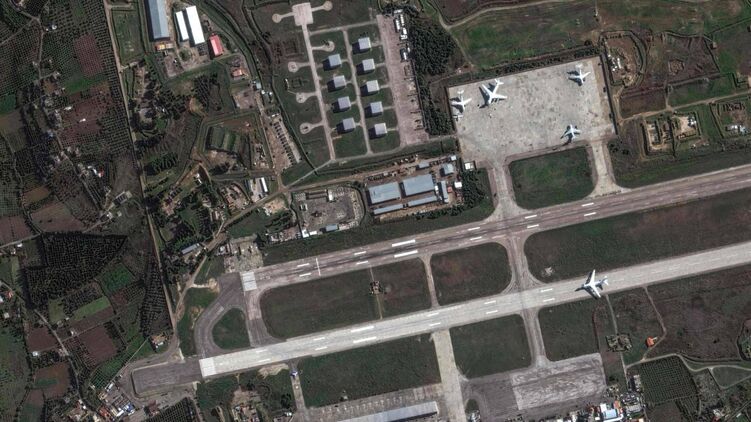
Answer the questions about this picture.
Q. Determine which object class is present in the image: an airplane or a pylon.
airplane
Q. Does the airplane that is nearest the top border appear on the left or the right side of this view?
right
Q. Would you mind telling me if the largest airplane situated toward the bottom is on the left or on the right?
right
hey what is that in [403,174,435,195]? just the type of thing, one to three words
hangar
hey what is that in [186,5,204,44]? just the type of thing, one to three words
shed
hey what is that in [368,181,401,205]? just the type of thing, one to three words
hangar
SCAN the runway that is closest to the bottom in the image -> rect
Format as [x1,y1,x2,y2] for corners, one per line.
[199,240,751,381]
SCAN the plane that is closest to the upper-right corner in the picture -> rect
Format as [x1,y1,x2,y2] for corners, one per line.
[569,62,593,85]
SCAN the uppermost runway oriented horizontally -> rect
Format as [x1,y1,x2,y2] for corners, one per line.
[240,163,751,295]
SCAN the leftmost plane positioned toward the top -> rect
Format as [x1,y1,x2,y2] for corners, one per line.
[453,90,472,112]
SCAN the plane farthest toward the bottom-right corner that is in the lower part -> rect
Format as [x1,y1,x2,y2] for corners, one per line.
[582,269,610,297]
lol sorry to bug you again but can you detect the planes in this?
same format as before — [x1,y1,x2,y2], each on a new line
[453,90,472,112]
[569,62,593,85]
[482,77,508,104]
[582,269,610,297]
[565,124,581,140]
